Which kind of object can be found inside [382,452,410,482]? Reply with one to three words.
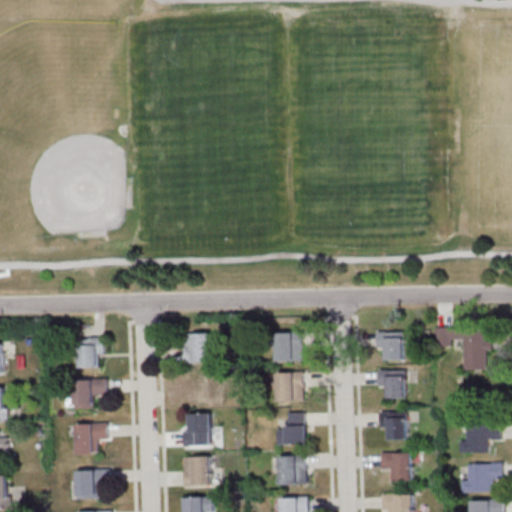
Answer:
house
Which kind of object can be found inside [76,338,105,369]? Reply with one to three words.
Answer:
house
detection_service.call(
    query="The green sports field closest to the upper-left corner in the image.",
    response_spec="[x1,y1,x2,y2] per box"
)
[132,14,292,250]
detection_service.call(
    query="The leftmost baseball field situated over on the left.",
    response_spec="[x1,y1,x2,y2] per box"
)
[30,134,127,234]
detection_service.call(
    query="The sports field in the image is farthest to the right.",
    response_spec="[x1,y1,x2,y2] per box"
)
[459,23,512,232]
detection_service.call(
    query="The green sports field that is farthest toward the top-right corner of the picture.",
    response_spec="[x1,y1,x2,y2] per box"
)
[294,13,446,248]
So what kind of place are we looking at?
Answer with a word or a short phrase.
sports ground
